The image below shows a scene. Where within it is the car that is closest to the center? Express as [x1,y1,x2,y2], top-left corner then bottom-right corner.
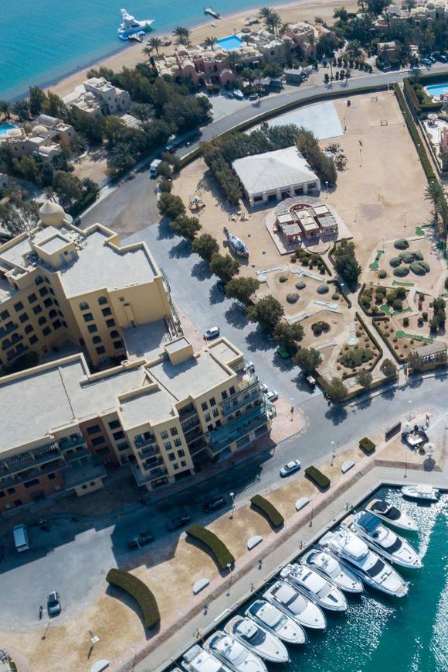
[201,326,221,339]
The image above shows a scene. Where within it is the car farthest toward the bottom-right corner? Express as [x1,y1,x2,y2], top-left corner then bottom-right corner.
[277,459,303,476]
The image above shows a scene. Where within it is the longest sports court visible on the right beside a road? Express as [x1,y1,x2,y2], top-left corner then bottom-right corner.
[259,100,343,140]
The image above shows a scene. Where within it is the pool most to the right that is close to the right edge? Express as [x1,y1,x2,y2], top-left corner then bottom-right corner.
[423,83,448,99]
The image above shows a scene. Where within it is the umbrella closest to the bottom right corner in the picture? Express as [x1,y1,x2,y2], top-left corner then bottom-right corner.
[422,440,437,456]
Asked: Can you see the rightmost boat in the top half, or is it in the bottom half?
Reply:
bottom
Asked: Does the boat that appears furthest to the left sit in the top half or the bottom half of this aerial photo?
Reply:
top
